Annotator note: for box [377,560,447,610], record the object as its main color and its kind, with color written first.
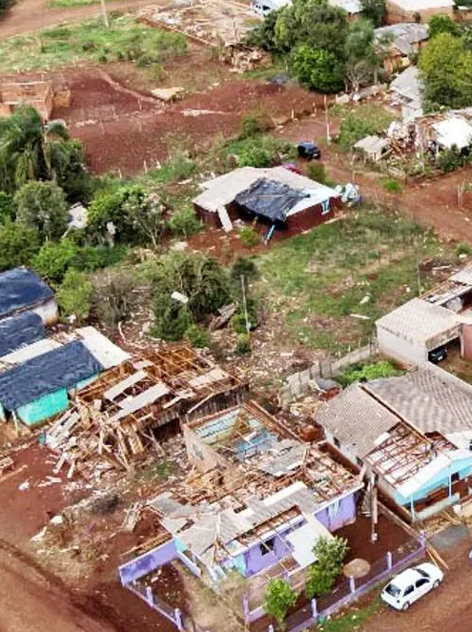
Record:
white car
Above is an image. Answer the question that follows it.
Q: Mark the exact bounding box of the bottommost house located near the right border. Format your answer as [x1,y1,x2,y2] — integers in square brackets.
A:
[311,371,472,529]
